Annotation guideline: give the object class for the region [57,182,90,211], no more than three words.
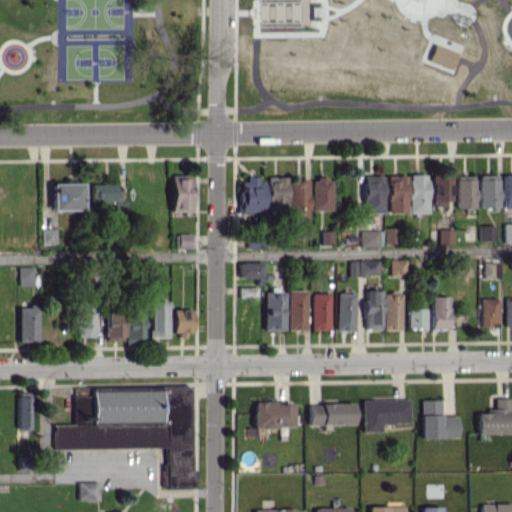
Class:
house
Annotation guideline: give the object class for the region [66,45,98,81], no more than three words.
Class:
basketball court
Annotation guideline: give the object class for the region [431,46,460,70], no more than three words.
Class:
building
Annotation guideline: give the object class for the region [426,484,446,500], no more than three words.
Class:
shed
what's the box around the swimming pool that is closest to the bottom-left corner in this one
[242,451,256,466]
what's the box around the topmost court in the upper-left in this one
[64,0,130,30]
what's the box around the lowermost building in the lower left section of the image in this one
[78,483,102,502]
